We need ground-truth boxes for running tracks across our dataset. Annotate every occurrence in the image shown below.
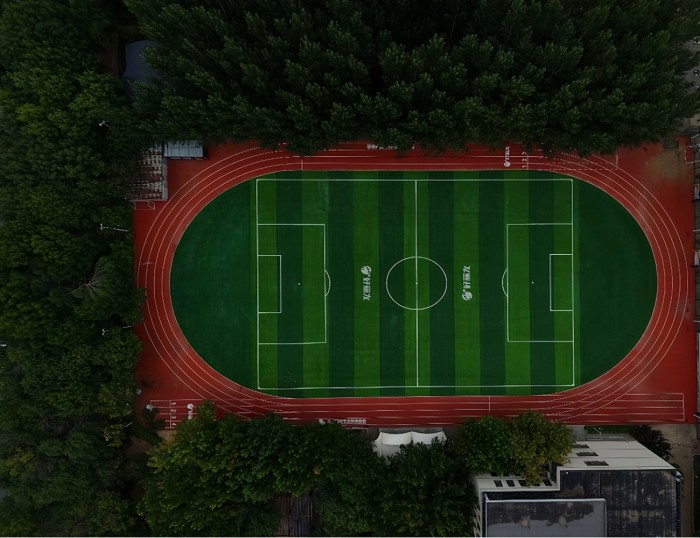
[134,136,697,432]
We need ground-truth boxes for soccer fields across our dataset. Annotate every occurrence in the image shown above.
[171,170,658,398]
